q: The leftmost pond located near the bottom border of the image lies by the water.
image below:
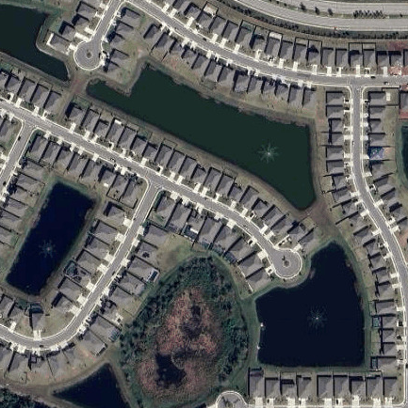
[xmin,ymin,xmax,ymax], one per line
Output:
[54,364,130,408]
